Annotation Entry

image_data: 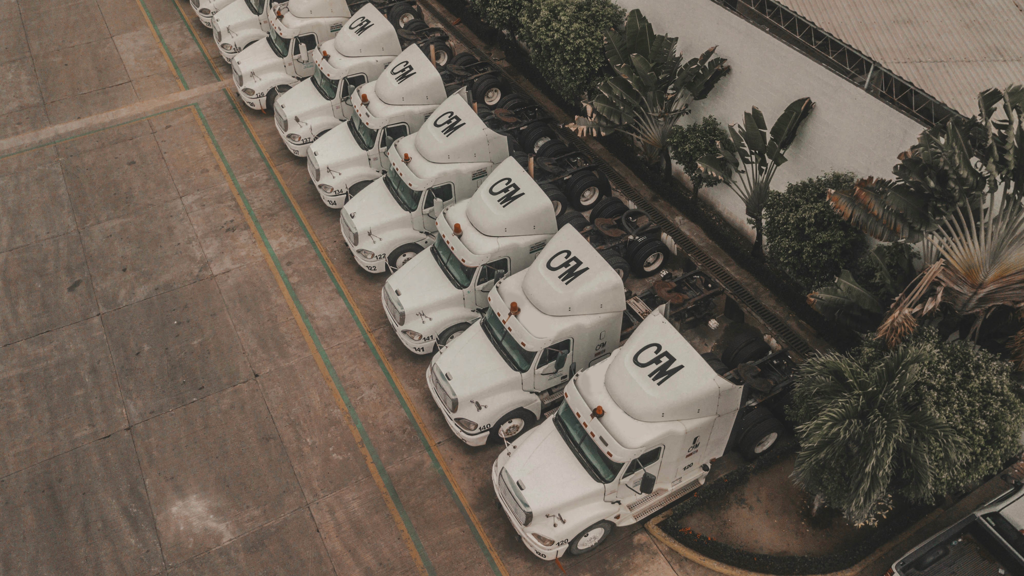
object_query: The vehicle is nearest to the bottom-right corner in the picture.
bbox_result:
[885,468,1024,576]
